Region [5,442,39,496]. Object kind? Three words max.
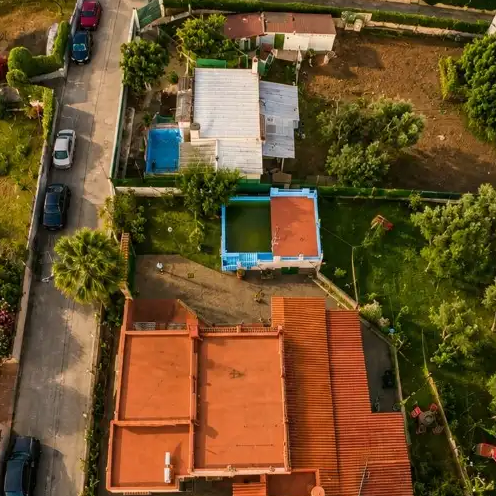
car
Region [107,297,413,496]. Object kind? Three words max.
house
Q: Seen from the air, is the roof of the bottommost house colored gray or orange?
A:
orange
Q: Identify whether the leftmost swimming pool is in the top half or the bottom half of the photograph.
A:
top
